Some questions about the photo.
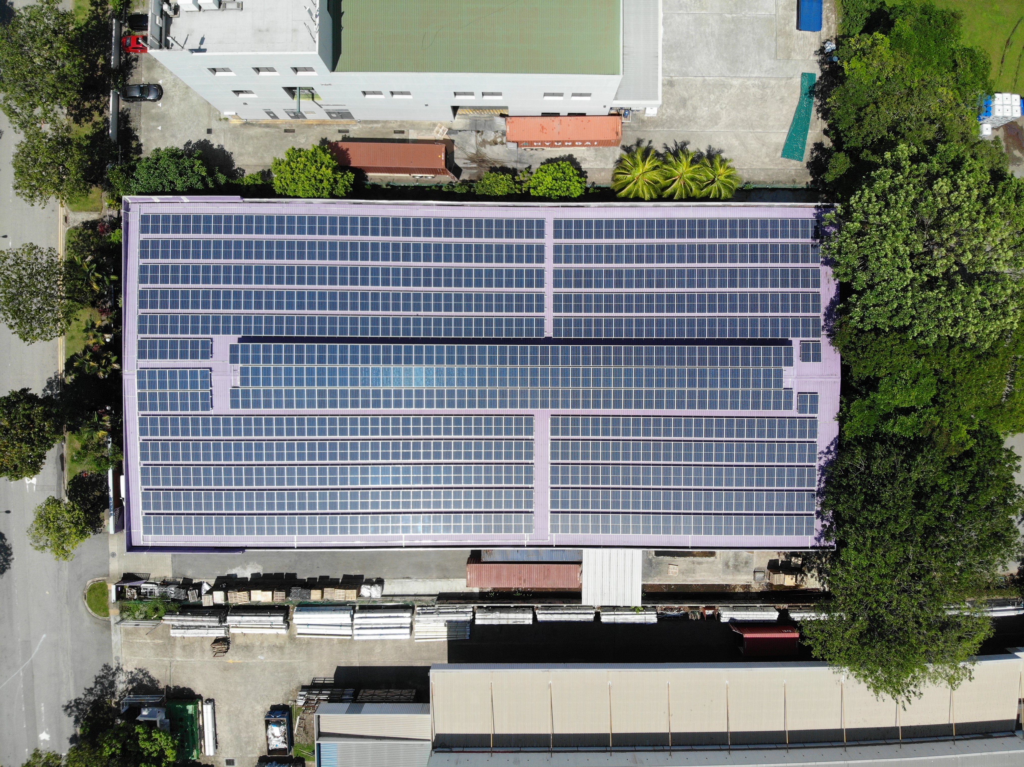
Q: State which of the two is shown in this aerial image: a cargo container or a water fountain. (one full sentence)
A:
The one in the frame is a cargo container.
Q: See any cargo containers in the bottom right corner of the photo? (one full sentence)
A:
Yes, there is a cargo container in the bottom right corner of the photo.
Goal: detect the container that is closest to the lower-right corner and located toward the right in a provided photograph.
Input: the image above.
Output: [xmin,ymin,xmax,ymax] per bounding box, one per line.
[724,618,800,656]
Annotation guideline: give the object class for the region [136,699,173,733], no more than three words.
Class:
building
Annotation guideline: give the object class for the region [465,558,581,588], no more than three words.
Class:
shipping container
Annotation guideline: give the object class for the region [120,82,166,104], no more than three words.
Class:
car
